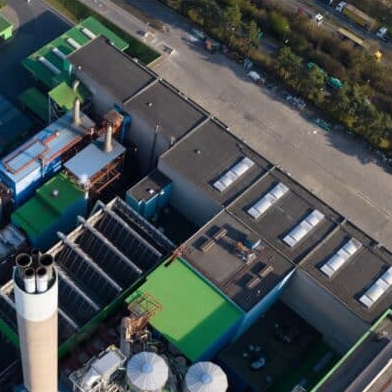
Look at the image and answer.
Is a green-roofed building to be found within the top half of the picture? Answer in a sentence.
Yes, there is a green-roofed building within the top half of the picture.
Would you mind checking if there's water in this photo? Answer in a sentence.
No, the scene doesn't show any water.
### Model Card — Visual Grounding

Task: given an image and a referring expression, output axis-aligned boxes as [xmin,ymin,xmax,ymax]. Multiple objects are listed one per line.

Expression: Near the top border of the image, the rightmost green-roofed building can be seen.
[22,17,129,113]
